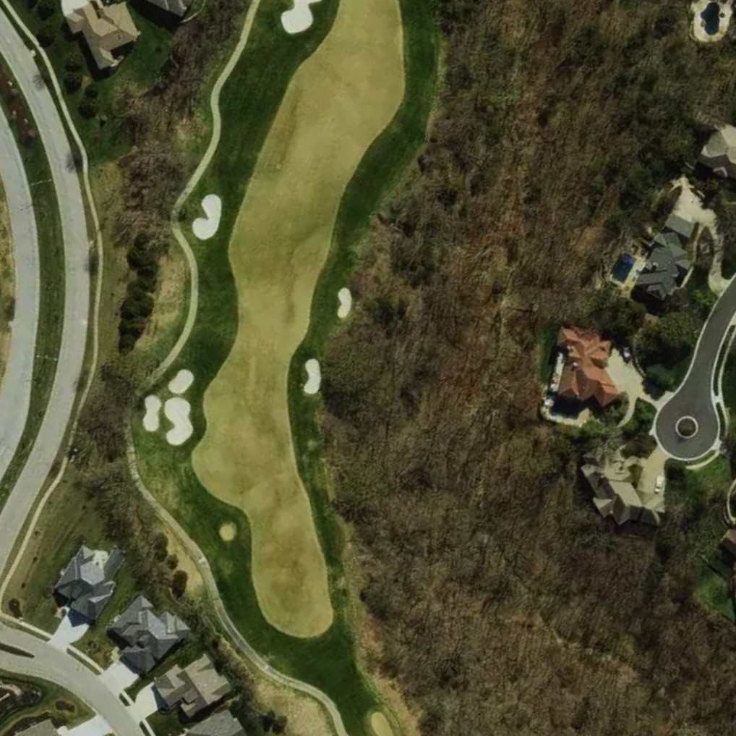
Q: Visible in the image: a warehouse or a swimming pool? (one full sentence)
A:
This aerial view contains a swimming pool.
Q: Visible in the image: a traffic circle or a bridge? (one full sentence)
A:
The image shows a traffic circle.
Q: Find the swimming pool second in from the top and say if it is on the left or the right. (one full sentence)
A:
The swimming pool second in from the top is on the right side of the image.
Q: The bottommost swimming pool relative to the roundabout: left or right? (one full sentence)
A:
Looking at the picture, you'll find the bottommost swimming pool to the left of the roundabout.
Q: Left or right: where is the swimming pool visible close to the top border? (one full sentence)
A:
You can find the swimming pool visible close to the top border on the right side of the picture.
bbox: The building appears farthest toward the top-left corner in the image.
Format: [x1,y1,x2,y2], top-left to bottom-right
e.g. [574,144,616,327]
[62,0,138,70]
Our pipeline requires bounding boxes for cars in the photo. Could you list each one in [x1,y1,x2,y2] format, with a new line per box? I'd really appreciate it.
[621,346,630,360]
[655,477,663,493]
